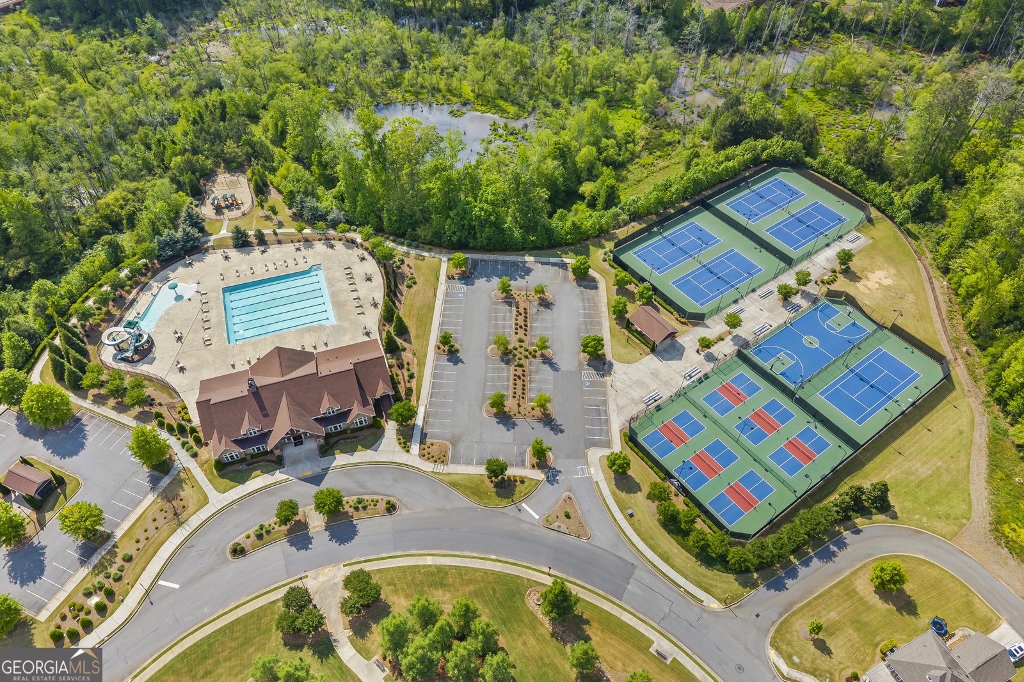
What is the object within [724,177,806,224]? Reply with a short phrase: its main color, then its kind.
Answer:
blue tennis court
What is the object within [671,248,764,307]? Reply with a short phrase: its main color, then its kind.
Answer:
blue tennis court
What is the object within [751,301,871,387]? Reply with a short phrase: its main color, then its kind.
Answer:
blue basketball court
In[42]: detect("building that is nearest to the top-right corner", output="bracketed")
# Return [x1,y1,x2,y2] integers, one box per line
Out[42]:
[629,306,679,351]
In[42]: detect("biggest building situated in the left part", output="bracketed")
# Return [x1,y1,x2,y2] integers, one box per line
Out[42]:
[196,339,395,462]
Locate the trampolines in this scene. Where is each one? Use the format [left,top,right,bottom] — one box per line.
[928,615,953,636]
